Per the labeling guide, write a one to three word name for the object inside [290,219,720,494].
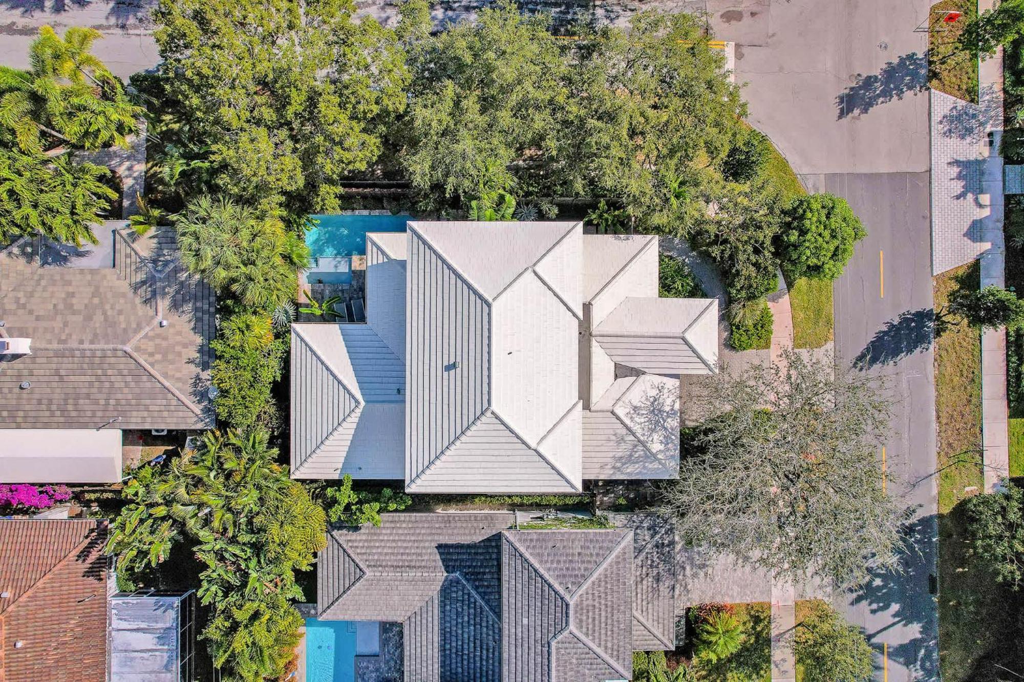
house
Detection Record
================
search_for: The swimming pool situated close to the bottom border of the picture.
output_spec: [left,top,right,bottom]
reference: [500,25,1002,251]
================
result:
[307,617,384,682]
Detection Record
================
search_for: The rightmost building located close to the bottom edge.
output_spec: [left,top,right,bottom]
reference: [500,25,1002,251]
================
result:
[314,511,677,682]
